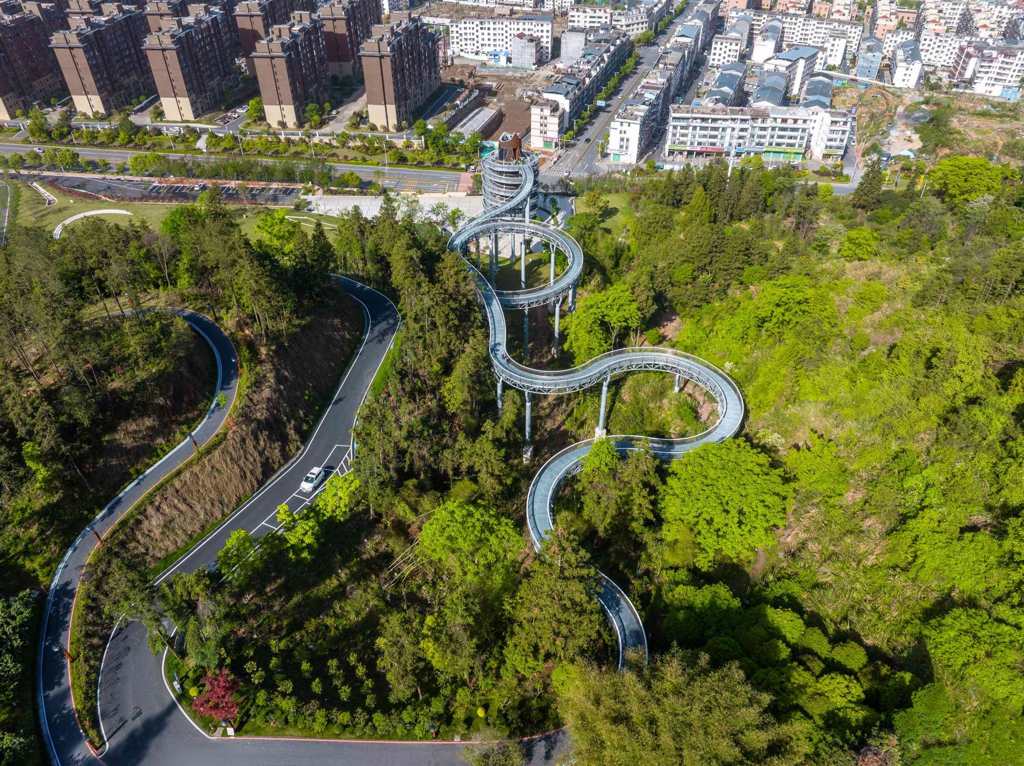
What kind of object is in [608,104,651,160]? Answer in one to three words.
building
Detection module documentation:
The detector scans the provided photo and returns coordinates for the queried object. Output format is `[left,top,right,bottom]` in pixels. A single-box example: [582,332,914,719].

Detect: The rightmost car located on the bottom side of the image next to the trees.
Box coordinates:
[298,463,327,491]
